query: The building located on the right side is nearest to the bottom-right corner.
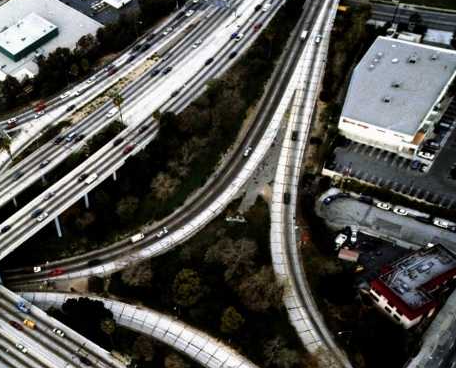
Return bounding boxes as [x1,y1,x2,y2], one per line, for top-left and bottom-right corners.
[367,250,455,318]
